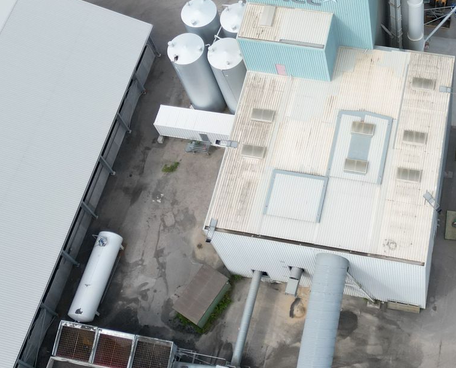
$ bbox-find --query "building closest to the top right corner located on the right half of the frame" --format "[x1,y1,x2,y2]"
[202,0,456,319]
